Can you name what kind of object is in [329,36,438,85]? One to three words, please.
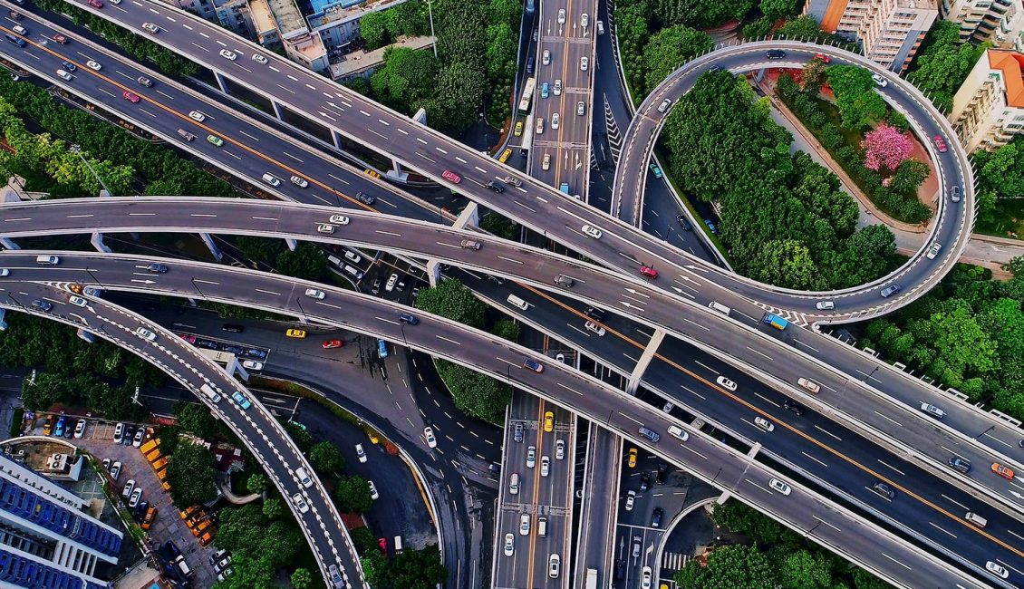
building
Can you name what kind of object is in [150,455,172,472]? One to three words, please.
vehicle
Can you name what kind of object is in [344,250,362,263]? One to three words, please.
vehicle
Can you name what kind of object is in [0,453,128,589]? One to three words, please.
building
